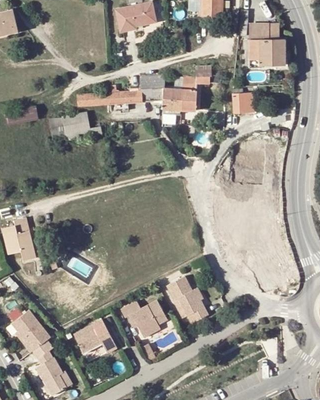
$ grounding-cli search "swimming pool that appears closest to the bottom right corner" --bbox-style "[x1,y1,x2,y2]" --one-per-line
[152,328,180,352]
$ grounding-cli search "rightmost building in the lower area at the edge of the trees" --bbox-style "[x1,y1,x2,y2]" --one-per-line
[166,278,208,324]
